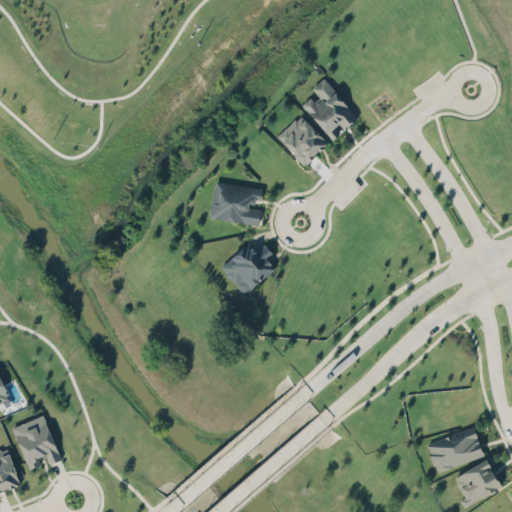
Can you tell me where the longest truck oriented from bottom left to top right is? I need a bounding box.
[328,354,356,378]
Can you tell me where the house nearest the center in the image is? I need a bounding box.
[223,237,278,296]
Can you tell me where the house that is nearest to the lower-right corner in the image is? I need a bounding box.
[456,461,504,512]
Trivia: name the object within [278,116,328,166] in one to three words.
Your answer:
house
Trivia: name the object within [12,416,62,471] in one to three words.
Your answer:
house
